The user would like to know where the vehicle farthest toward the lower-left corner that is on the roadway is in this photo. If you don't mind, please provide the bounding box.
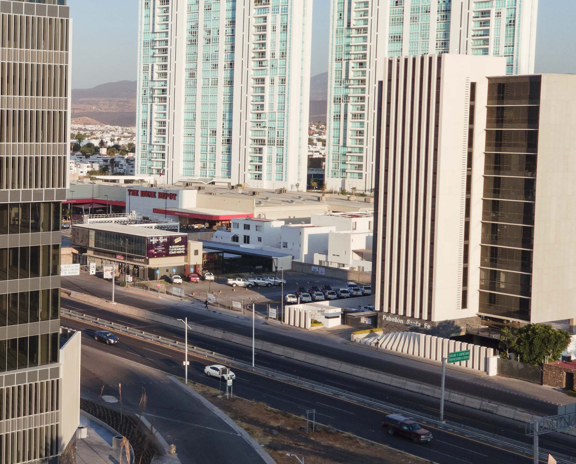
[93,329,119,344]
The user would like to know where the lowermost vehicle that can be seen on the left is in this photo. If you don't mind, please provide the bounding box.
[203,365,236,381]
